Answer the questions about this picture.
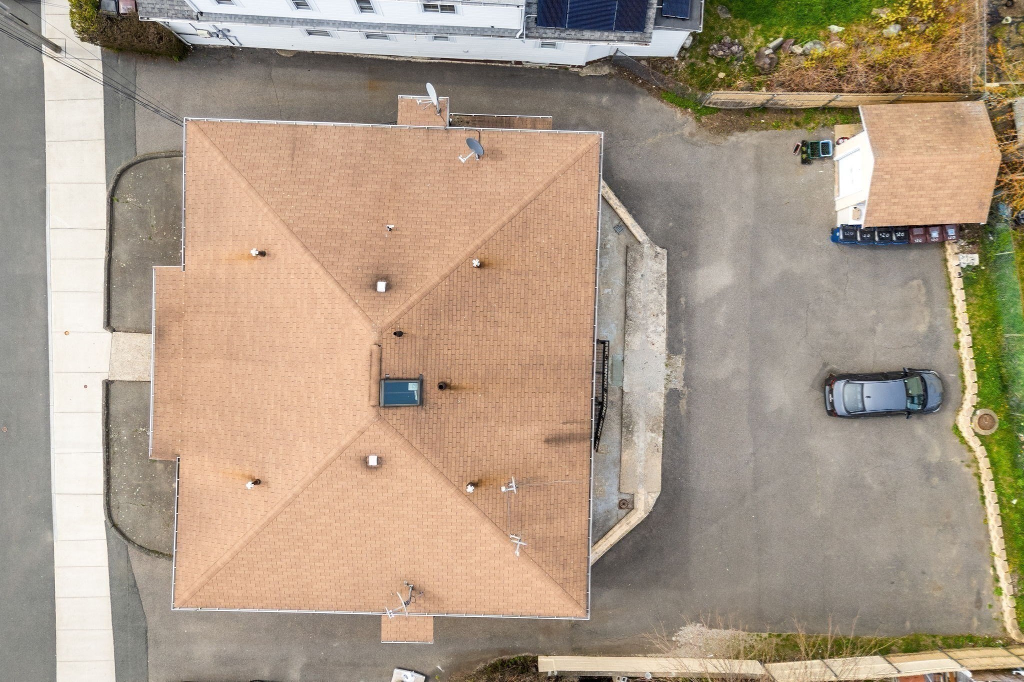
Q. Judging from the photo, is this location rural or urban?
urban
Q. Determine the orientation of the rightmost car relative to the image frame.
from side to side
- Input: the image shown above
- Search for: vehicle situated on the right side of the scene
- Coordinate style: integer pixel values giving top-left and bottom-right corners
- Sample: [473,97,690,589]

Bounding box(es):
[823,365,943,422]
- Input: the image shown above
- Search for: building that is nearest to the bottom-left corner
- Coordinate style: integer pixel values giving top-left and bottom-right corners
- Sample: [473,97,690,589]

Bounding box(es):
[148,96,603,641]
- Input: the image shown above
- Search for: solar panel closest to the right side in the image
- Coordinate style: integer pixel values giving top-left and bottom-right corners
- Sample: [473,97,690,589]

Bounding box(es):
[662,0,690,20]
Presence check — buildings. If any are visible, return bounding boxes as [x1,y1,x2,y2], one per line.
[148,96,603,641]
[138,0,707,69]
[831,104,1004,231]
